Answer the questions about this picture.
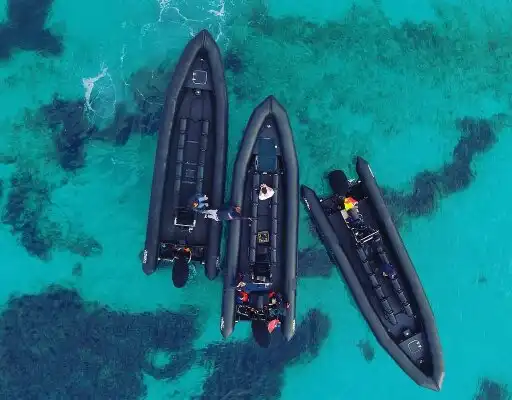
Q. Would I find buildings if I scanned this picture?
No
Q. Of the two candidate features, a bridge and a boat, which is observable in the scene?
boat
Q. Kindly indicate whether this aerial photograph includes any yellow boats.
No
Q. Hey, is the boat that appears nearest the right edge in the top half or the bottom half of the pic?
bottom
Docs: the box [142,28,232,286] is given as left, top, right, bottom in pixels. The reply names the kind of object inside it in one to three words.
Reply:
boat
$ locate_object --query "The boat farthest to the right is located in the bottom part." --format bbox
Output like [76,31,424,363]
[303,159,448,392]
